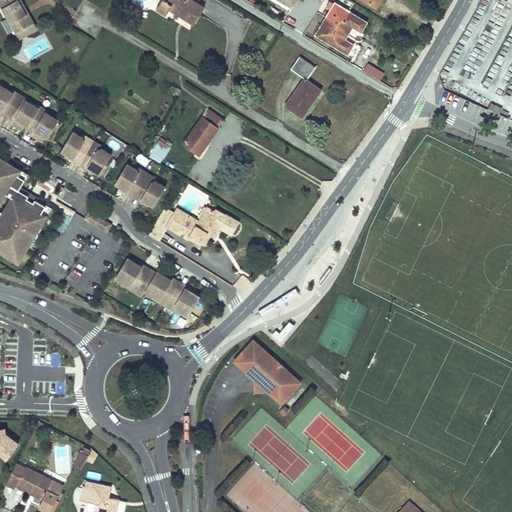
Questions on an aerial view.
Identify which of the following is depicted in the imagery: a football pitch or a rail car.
football pitch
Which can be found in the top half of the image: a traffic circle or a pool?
pool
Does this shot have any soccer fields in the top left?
No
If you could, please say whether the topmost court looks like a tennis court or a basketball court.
basketball court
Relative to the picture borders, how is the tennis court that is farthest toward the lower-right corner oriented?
on a diagonal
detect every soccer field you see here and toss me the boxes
[354,136,512,364]
[463,419,512,512]
[340,301,512,512]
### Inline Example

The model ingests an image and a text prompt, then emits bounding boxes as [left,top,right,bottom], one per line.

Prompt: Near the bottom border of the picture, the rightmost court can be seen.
[286,396,381,488]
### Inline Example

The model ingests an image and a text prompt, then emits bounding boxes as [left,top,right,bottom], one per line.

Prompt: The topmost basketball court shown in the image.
[318,295,368,356]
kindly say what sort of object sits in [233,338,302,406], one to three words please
building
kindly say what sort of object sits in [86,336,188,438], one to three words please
roundabout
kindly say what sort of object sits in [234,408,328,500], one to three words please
tennis court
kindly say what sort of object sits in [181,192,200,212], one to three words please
swimming pool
